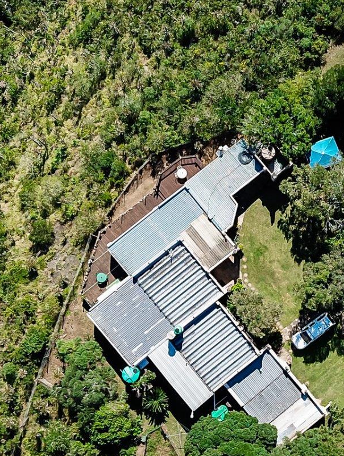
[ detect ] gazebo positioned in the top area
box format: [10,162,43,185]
[310,136,342,167]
